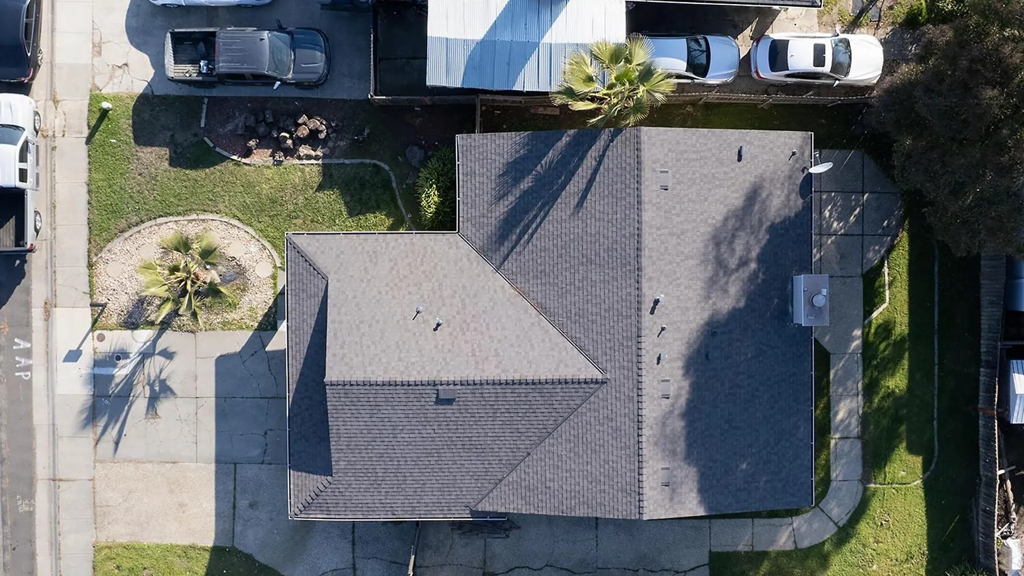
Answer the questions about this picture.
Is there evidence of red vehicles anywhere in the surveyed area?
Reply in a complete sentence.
No, this view has no red vehicle in it.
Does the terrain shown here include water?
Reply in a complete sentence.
No, the picture contains no water.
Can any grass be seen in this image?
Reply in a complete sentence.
Yes, grass can be seen from above here.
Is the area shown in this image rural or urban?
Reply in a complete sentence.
It looks urban.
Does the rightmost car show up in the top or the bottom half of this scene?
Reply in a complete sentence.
The rightmost car sits in the top half of the picture.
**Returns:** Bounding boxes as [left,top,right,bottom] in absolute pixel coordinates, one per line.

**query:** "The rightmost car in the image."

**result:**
[747,26,881,91]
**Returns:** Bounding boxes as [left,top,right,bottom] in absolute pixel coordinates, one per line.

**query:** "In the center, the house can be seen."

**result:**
[286,125,831,520]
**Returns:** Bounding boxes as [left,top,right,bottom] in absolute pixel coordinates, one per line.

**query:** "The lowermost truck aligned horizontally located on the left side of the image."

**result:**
[164,20,331,89]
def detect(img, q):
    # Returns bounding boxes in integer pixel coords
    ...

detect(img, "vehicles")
[747,26,881,91]
[624,26,738,91]
[164,20,331,89]
[0,95,43,256]
[150,0,280,13]
[0,0,45,87]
